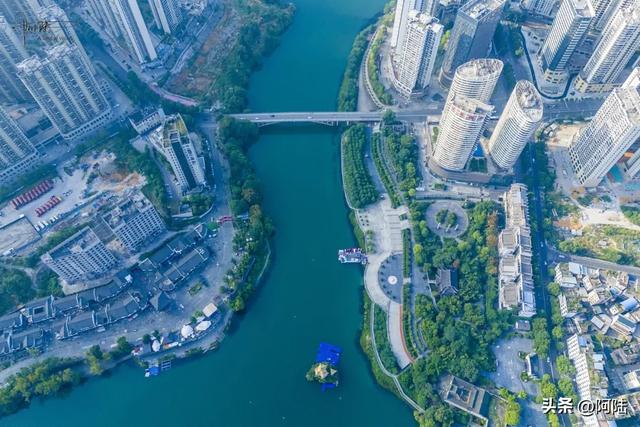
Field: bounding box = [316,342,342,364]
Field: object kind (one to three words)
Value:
pier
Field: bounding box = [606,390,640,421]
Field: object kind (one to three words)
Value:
house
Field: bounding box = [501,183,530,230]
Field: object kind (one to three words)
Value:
building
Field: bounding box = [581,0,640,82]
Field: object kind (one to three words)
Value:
building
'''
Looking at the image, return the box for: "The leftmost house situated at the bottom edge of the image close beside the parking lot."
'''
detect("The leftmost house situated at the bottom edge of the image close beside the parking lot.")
[441,374,487,418]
